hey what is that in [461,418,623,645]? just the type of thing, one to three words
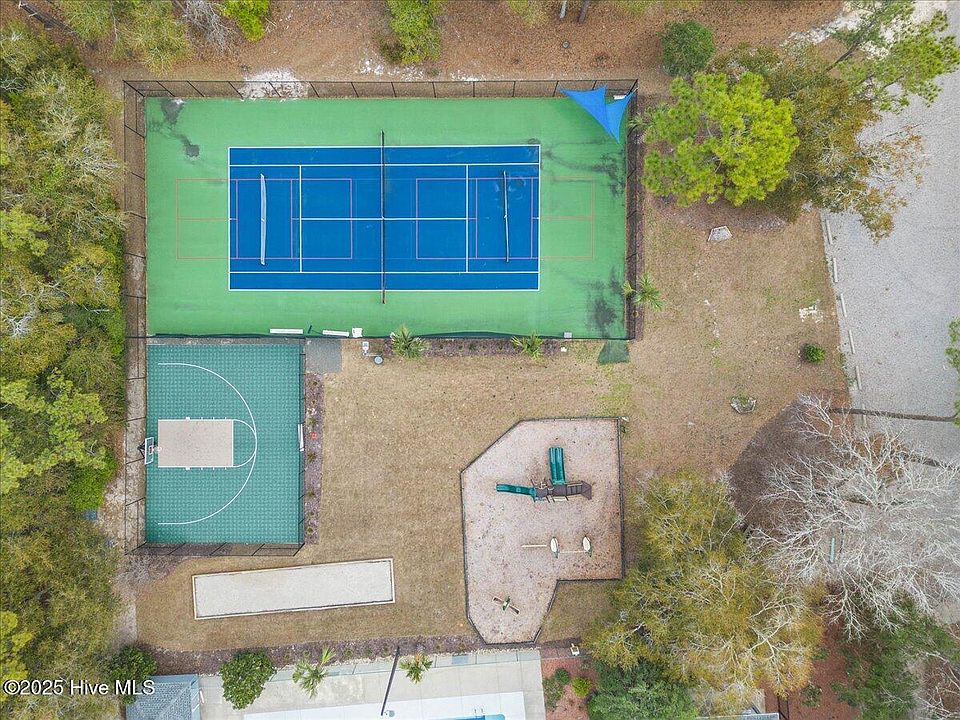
playground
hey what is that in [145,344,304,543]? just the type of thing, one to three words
basketball court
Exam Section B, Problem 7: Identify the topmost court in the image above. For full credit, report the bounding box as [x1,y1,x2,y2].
[146,96,631,336]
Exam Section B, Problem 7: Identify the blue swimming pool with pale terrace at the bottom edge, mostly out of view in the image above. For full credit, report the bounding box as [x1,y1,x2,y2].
[200,651,547,720]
